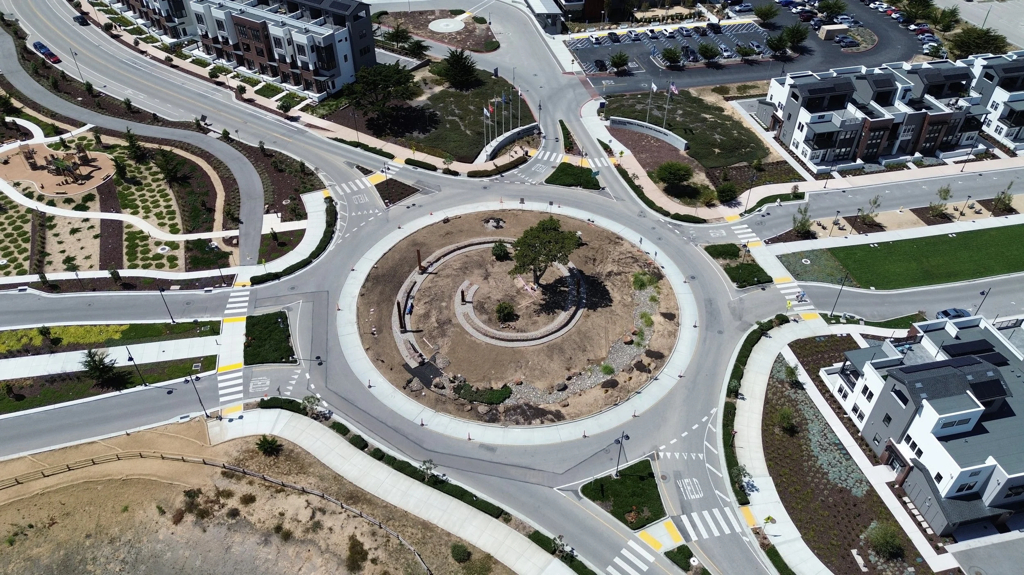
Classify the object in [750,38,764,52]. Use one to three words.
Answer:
car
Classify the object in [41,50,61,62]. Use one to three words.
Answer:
vehicle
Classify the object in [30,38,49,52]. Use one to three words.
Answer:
car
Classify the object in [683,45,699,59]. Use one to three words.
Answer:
vehicle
